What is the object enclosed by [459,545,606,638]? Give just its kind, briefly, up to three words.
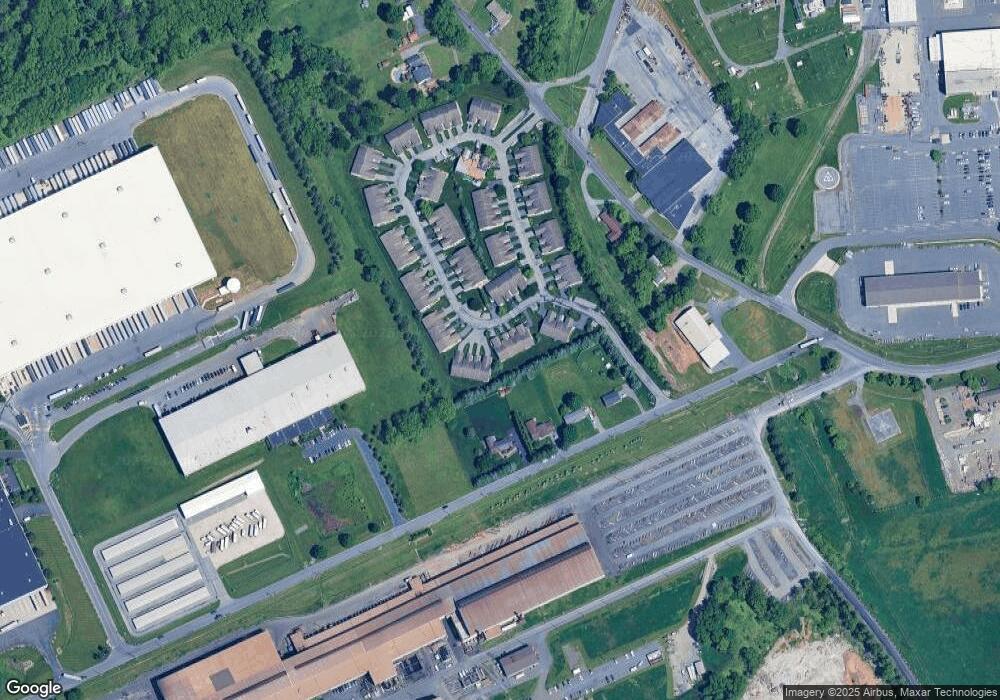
building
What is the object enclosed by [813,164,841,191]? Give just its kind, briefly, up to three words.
helipad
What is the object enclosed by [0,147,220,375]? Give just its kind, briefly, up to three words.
warehouse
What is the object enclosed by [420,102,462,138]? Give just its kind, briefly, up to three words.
house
